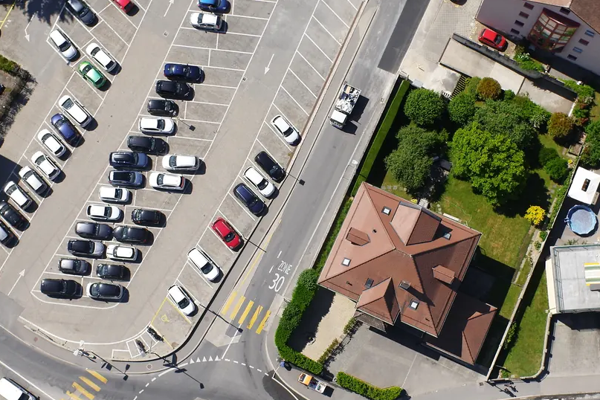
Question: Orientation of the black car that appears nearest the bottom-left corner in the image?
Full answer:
What the image shows is the black car that appears nearest the bottom-left corner lying from left to right.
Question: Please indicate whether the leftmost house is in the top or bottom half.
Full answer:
The bottom half of the photo is where the leftmost house is.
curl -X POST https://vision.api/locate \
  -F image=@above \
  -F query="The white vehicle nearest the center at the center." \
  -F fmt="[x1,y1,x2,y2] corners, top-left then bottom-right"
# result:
[241,164,274,200]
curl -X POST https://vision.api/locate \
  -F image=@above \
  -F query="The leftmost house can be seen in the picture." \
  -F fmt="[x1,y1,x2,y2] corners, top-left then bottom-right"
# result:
[317,181,498,365]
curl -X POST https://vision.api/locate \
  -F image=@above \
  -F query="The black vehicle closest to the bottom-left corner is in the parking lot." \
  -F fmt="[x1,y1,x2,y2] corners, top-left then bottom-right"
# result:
[38,279,83,299]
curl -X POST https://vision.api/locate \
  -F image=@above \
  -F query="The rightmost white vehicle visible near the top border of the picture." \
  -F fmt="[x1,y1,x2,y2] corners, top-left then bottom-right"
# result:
[190,6,223,34]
